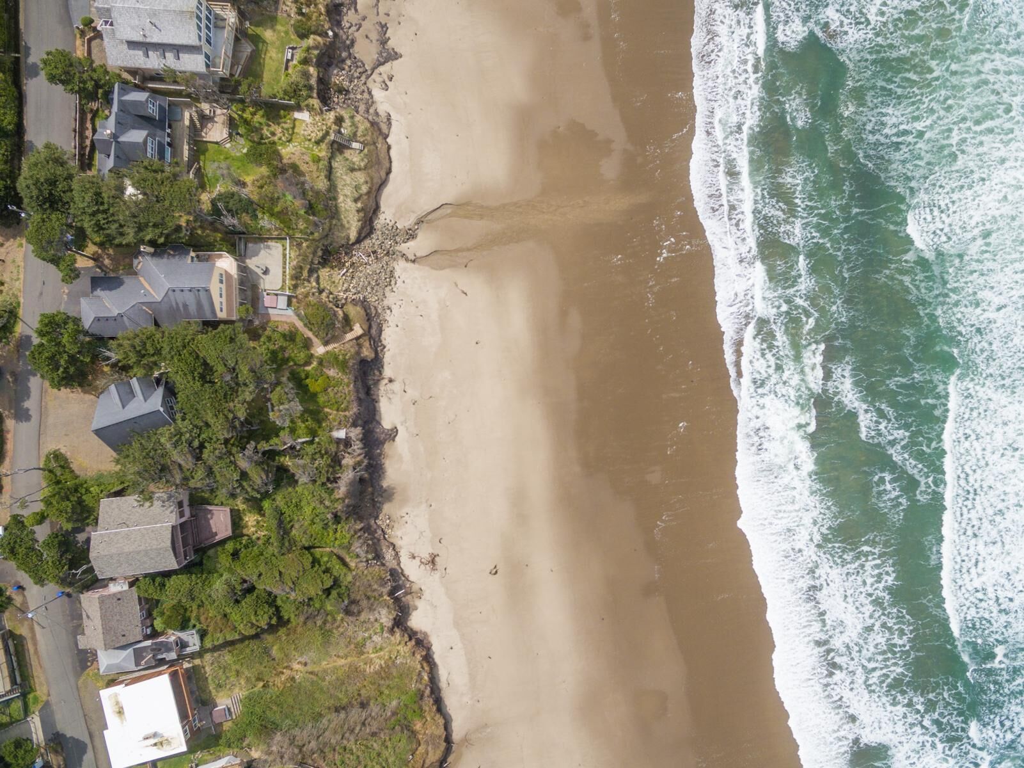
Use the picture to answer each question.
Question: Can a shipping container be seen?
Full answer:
No, the picture doesn't show any shipping container.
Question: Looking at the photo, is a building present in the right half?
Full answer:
No, in the right half there is no building.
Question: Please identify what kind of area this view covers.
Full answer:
The picture captures a beach.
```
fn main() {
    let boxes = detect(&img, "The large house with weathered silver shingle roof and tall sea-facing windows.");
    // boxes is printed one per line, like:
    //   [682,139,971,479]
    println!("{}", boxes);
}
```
[94,0,225,86]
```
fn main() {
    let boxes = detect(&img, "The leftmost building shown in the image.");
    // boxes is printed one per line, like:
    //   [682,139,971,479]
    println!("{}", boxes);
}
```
[0,626,33,703]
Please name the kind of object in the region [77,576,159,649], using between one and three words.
house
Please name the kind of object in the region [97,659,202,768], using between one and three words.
house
